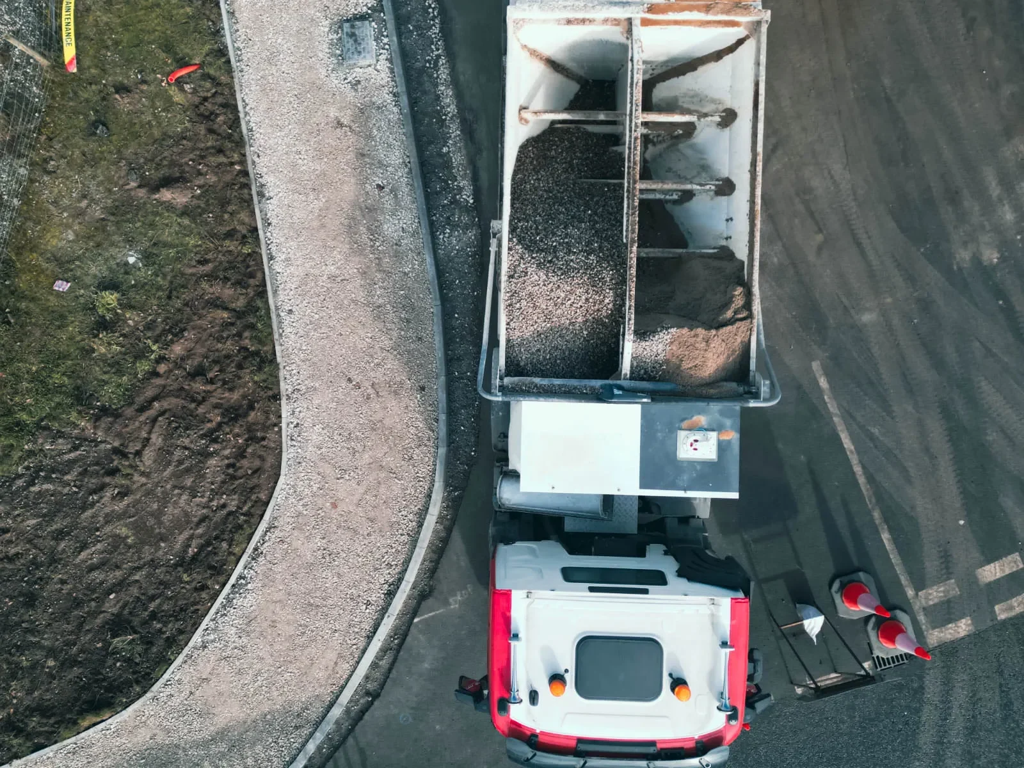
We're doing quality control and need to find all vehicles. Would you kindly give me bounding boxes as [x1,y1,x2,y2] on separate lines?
[456,0,782,768]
